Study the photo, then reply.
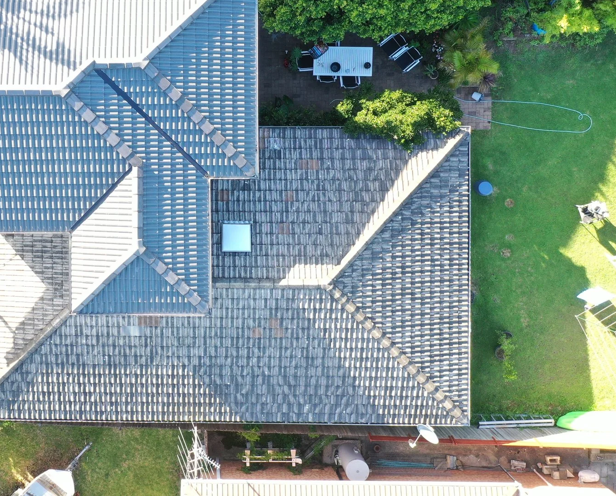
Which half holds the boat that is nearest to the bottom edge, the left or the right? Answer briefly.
left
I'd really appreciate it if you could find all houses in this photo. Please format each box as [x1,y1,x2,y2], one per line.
[0,0,473,429]
[178,457,616,496]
